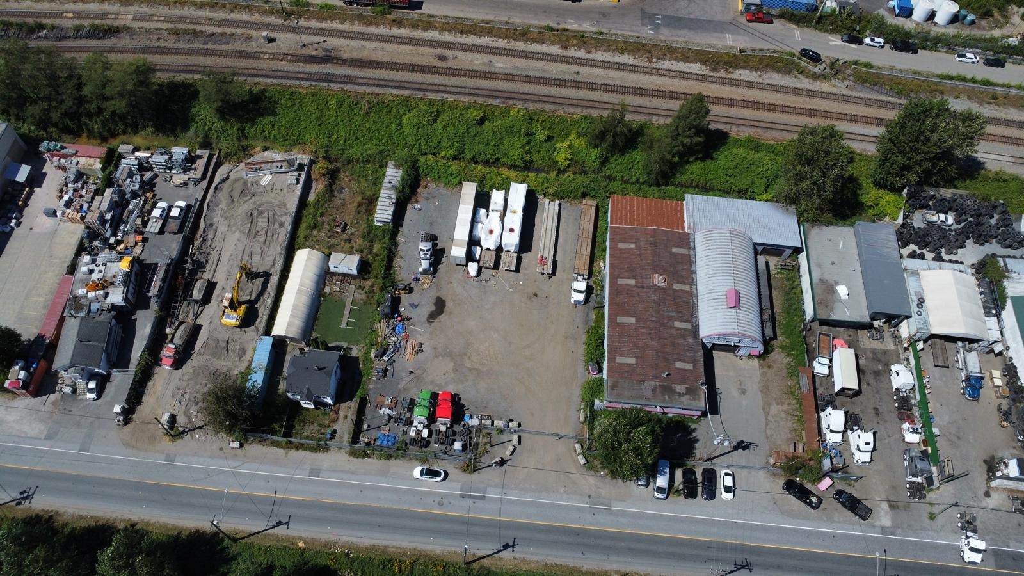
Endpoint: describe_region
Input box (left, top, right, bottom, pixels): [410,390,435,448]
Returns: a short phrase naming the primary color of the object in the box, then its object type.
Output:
green truck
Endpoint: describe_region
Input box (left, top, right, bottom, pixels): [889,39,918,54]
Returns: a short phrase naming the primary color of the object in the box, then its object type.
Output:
black vehicle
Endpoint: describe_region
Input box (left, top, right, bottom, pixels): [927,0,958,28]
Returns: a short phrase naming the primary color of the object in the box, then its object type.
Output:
white storage tank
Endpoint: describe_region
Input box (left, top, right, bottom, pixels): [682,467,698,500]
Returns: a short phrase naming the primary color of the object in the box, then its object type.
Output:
black car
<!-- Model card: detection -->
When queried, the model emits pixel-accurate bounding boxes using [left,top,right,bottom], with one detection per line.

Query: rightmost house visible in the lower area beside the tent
[278,348,343,416]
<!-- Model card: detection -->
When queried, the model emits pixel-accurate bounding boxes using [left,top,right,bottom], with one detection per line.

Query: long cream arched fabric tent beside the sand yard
[276,252,328,349]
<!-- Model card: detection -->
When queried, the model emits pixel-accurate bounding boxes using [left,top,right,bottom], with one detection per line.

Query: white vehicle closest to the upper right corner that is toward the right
[954,52,979,64]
